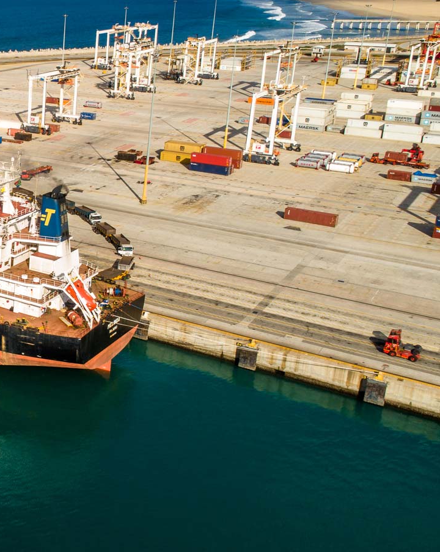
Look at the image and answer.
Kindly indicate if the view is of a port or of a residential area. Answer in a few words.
port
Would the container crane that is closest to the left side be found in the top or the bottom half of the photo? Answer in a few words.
top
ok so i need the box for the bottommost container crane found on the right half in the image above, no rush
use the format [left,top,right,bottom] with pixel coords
[245,80,309,163]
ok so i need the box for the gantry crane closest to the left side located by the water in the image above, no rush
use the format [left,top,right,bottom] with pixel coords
[24,62,82,134]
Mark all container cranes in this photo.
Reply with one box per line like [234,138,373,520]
[259,44,302,97]
[125,22,158,63]
[175,33,217,82]
[245,80,309,163]
[24,62,82,134]
[91,27,127,69]
[399,37,440,90]
[108,45,155,97]
[105,36,149,86]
